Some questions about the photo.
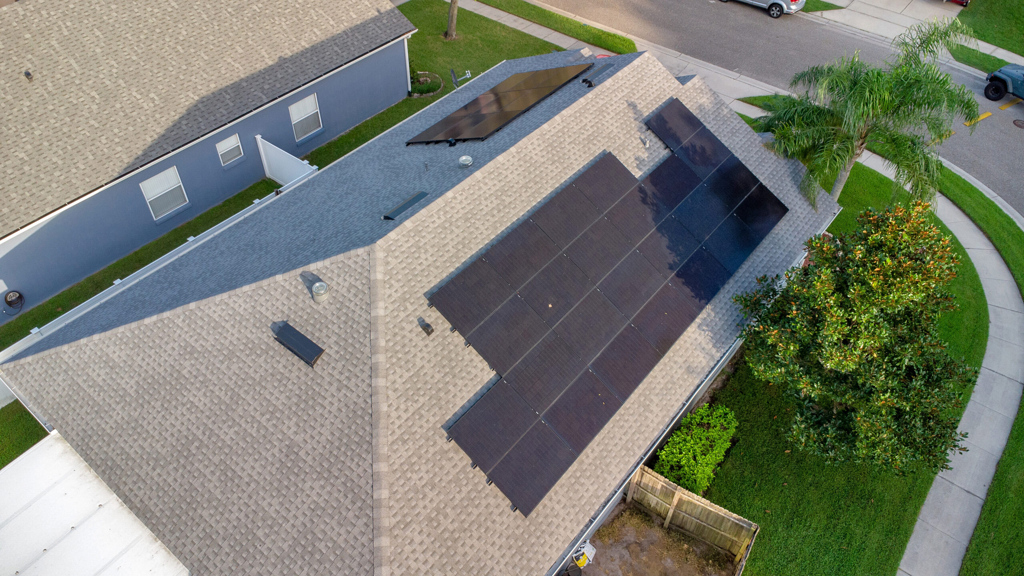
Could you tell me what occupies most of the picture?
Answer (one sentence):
Most of the picture is covered by buildings.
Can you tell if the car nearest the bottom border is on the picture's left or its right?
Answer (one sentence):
The car nearest the bottom border is on the right side of the image.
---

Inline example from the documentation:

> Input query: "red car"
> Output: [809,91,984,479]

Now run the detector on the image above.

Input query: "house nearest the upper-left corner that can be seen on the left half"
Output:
[0,0,424,323]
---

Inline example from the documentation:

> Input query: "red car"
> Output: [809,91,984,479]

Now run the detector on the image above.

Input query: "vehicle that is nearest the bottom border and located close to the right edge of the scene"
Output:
[980,62,1024,105]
